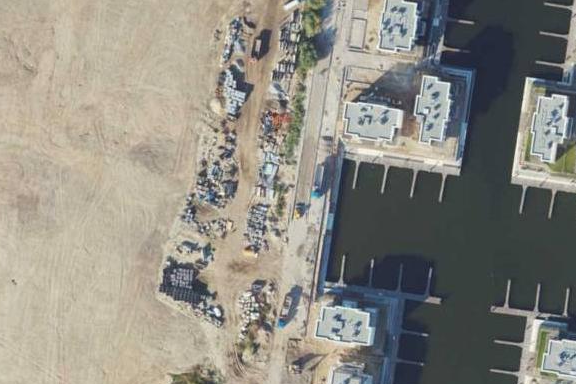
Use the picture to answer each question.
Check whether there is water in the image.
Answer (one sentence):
Yes, water can be seen from above here.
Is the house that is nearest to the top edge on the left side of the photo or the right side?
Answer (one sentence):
The house that is nearest to the top edge sits on the right side.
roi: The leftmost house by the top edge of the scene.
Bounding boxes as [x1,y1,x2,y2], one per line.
[378,0,425,53]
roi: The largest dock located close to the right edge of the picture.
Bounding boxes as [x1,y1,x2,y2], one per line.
[491,306,569,321]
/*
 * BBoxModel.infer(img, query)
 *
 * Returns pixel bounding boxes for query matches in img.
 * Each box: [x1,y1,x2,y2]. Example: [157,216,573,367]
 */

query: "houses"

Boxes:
[414,75,458,143]
[343,98,403,141]
[530,95,572,162]
[314,301,374,345]
[540,334,576,376]
[378,0,425,53]
[332,369,373,384]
